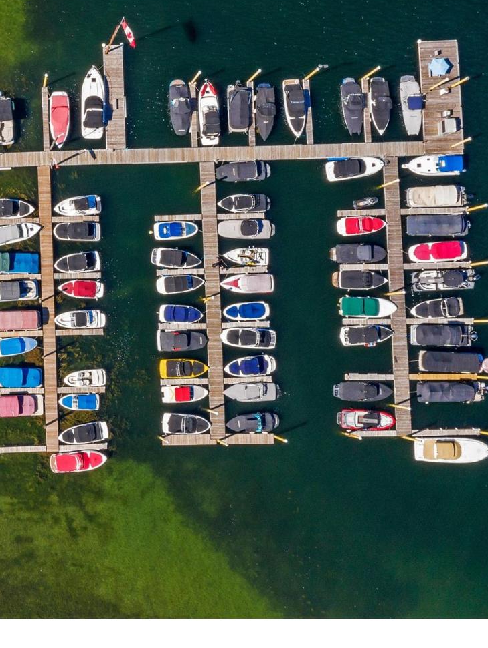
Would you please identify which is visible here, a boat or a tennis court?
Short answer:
boat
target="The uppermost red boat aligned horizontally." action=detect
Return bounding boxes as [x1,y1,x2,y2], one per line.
[334,216,387,235]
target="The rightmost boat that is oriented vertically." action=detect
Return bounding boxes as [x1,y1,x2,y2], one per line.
[397,76,425,138]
